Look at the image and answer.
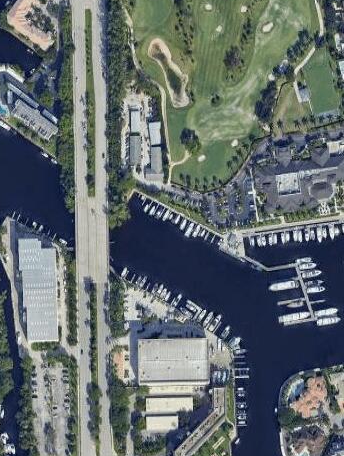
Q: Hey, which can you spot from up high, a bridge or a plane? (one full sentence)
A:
There is a bridge in the scene.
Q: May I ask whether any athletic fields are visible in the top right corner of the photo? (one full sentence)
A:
Yes, an athletic field is visible in the top right corner of the photo.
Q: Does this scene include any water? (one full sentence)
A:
Yes, water shows up in the scene.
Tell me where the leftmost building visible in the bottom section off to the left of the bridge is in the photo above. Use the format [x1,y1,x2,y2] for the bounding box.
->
[19,238,58,343]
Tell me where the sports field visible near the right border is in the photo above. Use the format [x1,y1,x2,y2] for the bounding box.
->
[276,53,342,133]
